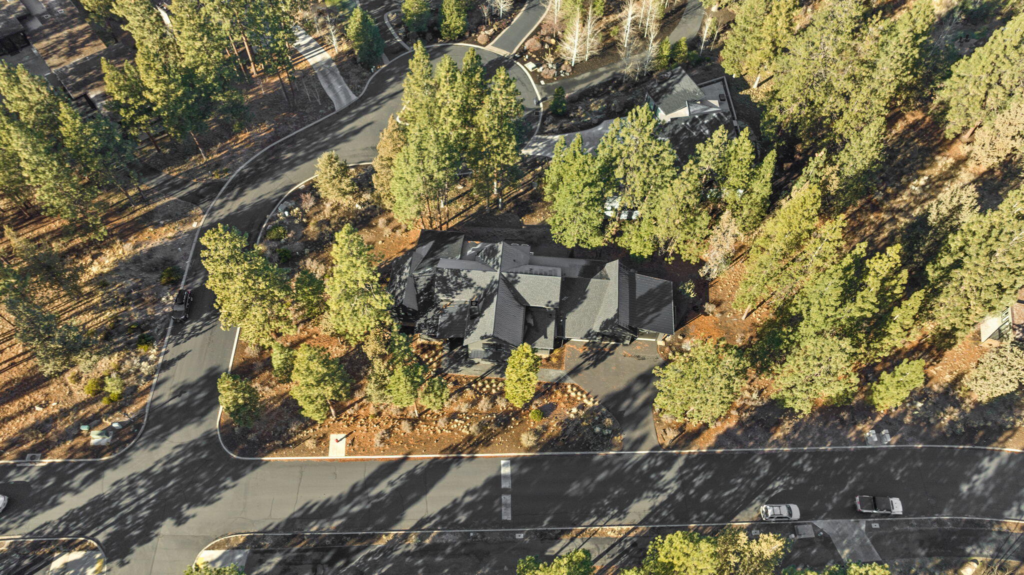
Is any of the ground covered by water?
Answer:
No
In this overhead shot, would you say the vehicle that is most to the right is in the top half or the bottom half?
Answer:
bottom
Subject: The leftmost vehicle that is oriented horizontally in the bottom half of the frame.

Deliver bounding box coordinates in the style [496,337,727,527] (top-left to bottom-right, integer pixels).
[761,503,804,523]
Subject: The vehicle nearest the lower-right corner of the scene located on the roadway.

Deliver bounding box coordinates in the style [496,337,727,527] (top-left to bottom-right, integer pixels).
[856,497,907,517]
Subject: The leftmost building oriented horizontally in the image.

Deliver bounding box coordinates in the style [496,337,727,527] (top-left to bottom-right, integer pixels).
[384,234,679,376]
